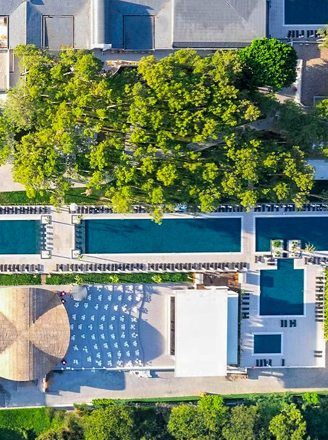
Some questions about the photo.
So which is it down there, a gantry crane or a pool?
pool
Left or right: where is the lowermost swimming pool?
right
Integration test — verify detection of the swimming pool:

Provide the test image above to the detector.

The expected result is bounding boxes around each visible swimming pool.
[72,216,243,256]
[252,333,283,355]
[283,0,328,26]
[0,218,48,256]
[253,214,328,317]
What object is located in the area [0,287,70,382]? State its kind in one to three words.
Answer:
building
